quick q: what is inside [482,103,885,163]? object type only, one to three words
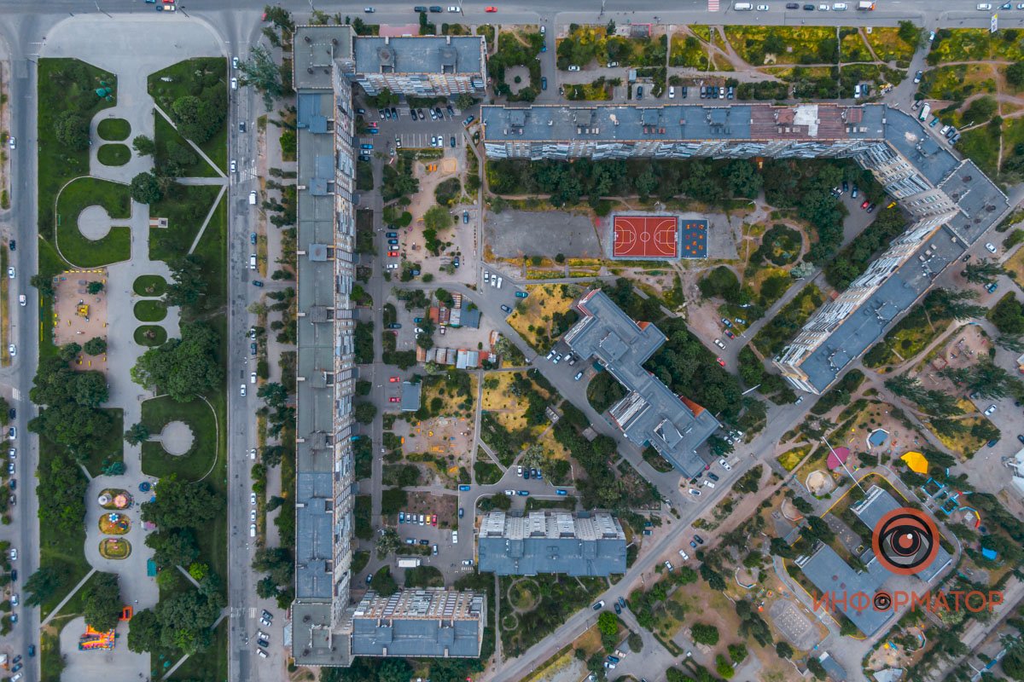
building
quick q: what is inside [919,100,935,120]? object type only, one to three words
vehicle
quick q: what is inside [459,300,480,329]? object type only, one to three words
shed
